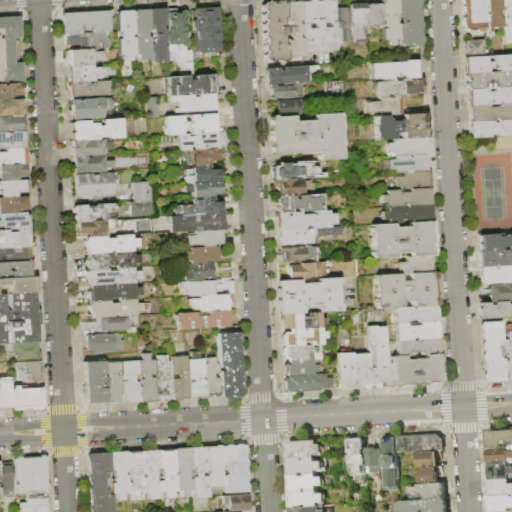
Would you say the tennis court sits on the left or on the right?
right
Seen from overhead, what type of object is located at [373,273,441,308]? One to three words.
building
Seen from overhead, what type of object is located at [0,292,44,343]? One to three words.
building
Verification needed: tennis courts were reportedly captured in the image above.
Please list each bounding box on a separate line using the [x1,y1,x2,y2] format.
[474,154,512,230]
